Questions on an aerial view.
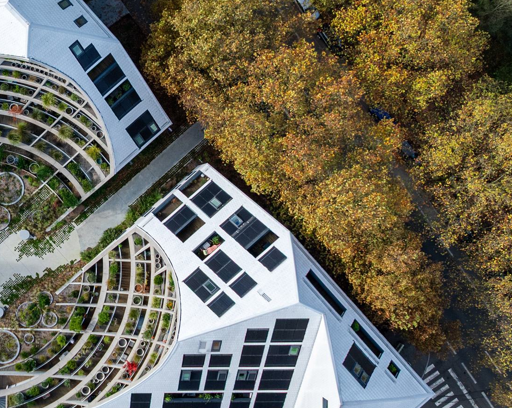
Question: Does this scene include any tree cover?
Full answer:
Yes, there is tree cover in the image.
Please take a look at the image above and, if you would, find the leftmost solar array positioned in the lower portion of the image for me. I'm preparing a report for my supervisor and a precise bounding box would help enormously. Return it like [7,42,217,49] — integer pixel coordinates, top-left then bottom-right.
[130,394,152,408]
